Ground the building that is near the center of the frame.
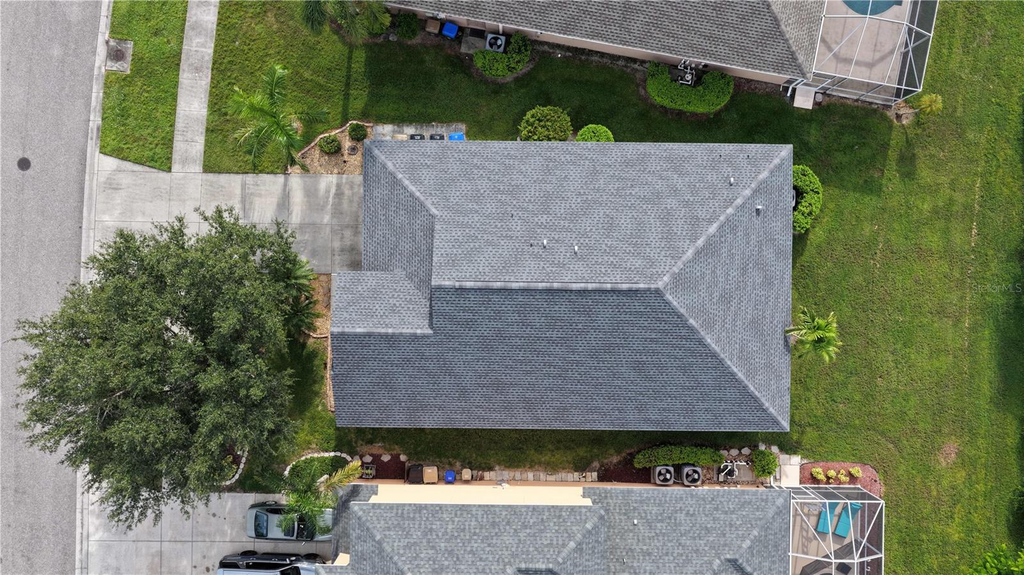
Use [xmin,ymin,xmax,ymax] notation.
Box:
[328,139,794,435]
